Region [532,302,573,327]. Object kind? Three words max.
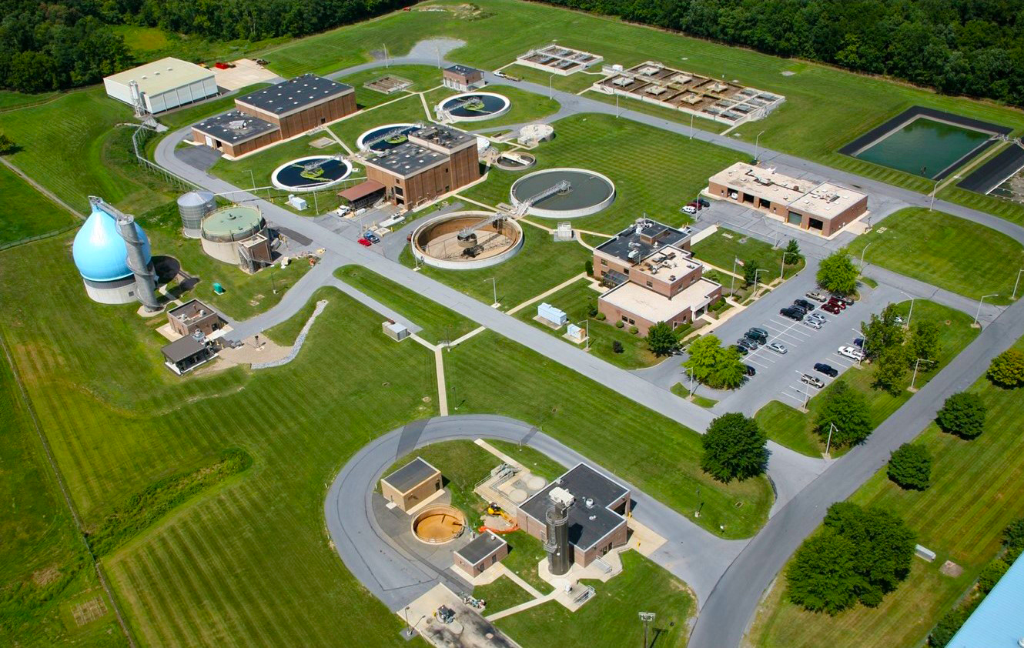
shipping container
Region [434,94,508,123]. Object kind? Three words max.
storage tank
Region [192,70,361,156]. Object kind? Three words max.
building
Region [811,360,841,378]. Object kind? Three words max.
car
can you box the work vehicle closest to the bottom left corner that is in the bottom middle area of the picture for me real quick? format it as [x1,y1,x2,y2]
[485,498,515,520]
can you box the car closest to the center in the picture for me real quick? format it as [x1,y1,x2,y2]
[401,231,414,243]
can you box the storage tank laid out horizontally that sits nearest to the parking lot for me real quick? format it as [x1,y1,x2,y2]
[512,169,613,218]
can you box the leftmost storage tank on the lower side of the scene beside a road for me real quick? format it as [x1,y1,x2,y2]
[411,499,466,547]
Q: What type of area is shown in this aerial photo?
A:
industrial area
